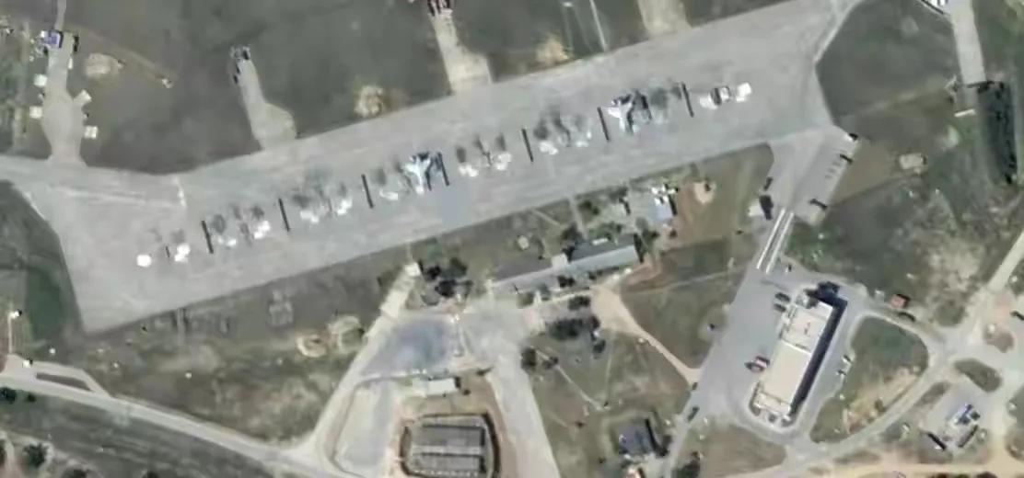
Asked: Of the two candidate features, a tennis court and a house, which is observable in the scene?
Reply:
house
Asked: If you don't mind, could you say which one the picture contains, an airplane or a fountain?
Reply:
airplane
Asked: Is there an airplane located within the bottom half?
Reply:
No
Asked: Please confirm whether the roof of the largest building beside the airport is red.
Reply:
No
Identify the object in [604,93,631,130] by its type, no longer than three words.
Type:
airplane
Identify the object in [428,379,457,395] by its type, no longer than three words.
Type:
building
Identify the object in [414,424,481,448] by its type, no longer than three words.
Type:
shed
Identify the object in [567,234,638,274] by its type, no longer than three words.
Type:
house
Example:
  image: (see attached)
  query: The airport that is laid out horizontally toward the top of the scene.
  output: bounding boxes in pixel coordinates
[0,0,867,333]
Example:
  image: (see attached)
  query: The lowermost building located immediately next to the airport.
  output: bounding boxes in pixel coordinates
[752,289,834,417]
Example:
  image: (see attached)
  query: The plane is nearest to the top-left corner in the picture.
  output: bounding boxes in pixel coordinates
[403,153,429,190]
